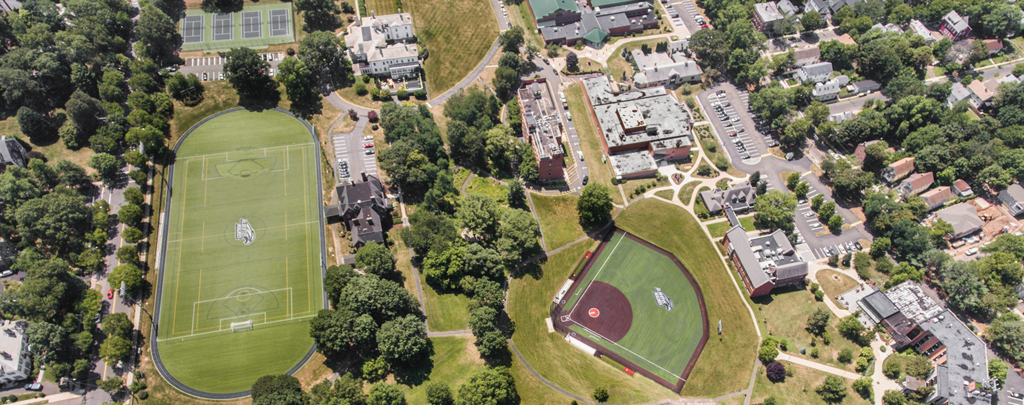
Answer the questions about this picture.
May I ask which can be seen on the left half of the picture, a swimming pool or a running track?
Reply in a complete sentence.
The feature located on the left half of the picture is a running track.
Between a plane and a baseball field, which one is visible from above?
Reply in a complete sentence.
The image shows a baseball field.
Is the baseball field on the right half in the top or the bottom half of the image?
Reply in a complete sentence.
It is in the bottom half that the baseball field on the right half appears.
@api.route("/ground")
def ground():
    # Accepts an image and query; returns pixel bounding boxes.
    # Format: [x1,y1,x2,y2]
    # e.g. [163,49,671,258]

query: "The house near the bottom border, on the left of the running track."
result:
[0,318,41,385]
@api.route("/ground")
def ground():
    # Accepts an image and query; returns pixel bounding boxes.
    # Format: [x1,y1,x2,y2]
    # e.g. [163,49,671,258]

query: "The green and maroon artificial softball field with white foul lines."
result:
[552,227,710,393]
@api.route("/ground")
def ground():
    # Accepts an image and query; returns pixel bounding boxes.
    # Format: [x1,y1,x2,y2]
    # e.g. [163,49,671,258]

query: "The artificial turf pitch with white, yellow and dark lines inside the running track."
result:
[157,109,319,392]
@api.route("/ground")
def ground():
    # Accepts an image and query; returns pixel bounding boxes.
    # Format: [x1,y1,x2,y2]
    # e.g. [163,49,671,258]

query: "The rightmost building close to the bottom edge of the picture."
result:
[856,284,1006,405]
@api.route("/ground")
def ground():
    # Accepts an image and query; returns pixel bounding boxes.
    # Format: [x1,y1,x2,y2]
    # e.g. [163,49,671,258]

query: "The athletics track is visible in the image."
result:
[149,105,327,399]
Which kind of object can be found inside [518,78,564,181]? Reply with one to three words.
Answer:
building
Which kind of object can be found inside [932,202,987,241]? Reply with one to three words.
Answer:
house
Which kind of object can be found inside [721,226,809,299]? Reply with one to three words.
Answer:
building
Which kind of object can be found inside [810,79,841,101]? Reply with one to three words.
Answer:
house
